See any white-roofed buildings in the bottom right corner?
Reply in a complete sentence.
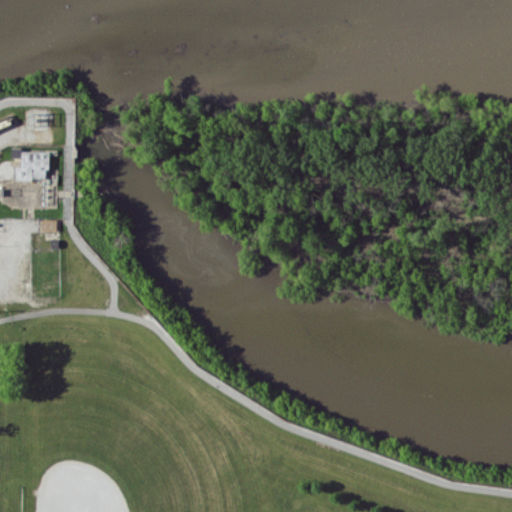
No, there is no white-roofed building in the bottom right corner.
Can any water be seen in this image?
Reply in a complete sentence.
Yes, there's water in this view.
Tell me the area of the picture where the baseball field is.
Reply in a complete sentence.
The baseball field is in the bottom left part of the image.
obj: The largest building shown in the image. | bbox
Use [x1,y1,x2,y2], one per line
[16,152,50,182]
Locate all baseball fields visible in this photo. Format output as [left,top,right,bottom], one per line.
[33,356,225,512]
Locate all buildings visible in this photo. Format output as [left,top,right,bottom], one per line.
[42,220,58,232]
[16,152,50,182]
